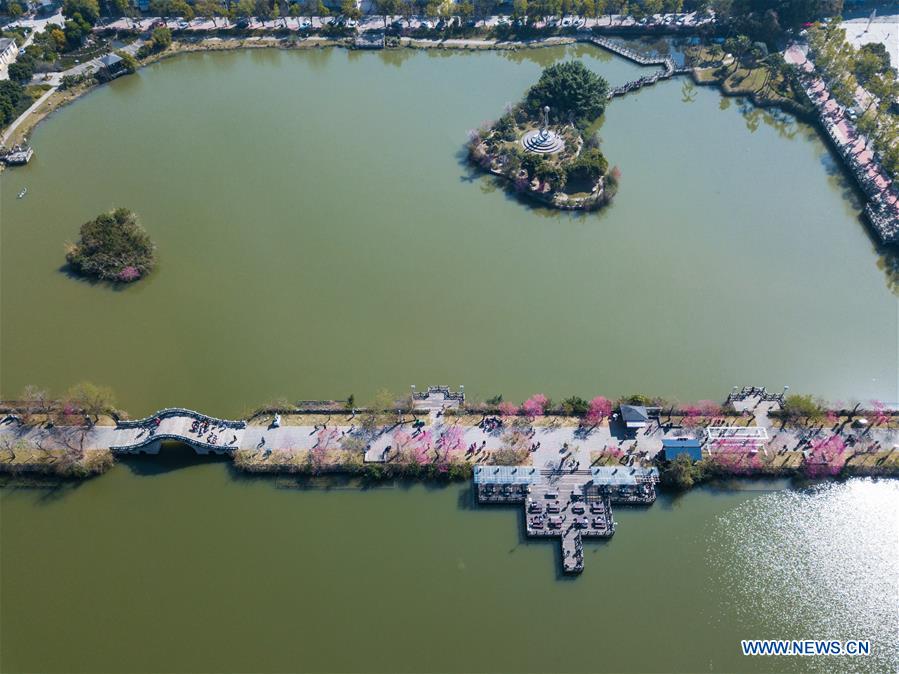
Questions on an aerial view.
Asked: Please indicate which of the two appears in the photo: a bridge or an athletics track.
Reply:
bridge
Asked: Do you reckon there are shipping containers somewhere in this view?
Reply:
No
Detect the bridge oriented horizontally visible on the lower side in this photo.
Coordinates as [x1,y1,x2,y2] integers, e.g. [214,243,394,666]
[108,406,246,455]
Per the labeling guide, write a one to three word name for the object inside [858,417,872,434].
umbrella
